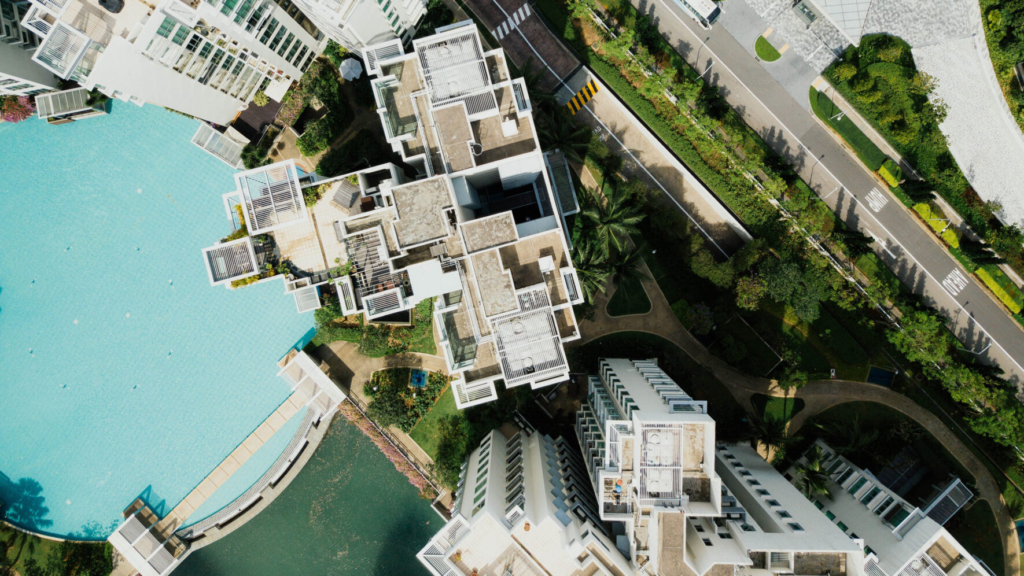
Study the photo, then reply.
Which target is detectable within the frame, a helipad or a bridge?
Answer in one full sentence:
The image shows a bridge.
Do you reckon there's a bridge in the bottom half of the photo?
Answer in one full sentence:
Yes, the scene does show a bridge in the bottom half of the photo.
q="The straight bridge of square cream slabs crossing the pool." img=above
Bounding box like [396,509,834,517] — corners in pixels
[163,379,320,530]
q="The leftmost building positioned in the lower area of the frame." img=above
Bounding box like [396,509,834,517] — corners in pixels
[108,496,198,576]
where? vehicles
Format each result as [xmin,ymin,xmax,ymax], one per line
[675,0,725,29]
